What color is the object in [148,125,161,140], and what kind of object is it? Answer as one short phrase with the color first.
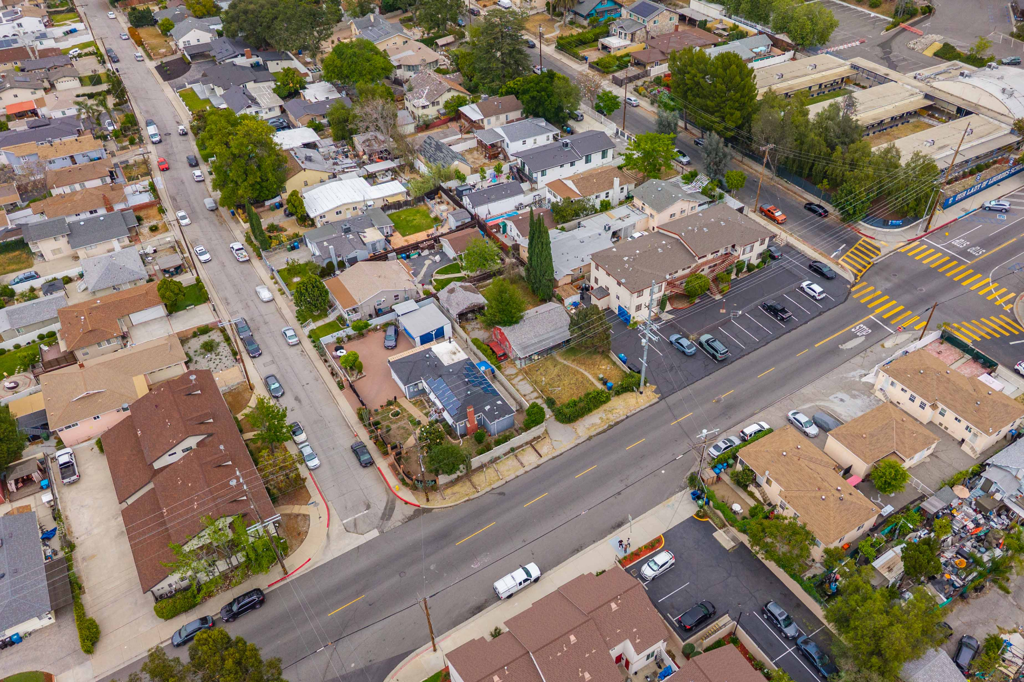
white vehicle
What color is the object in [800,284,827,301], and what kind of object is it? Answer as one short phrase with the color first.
white car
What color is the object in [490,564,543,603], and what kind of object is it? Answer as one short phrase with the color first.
white truck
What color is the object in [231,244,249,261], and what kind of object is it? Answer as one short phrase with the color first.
white vehicle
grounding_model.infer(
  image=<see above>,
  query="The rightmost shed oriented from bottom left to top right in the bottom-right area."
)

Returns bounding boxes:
[920,488,958,519]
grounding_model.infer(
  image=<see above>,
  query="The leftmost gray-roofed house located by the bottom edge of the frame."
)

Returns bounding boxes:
[0,507,81,652]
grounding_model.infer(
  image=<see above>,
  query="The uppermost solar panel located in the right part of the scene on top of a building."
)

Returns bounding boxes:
[630,1,658,16]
